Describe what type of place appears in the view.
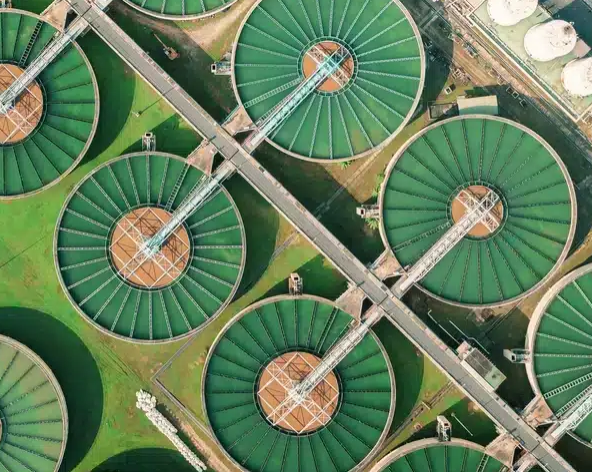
industrial area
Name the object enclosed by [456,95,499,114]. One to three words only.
shed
